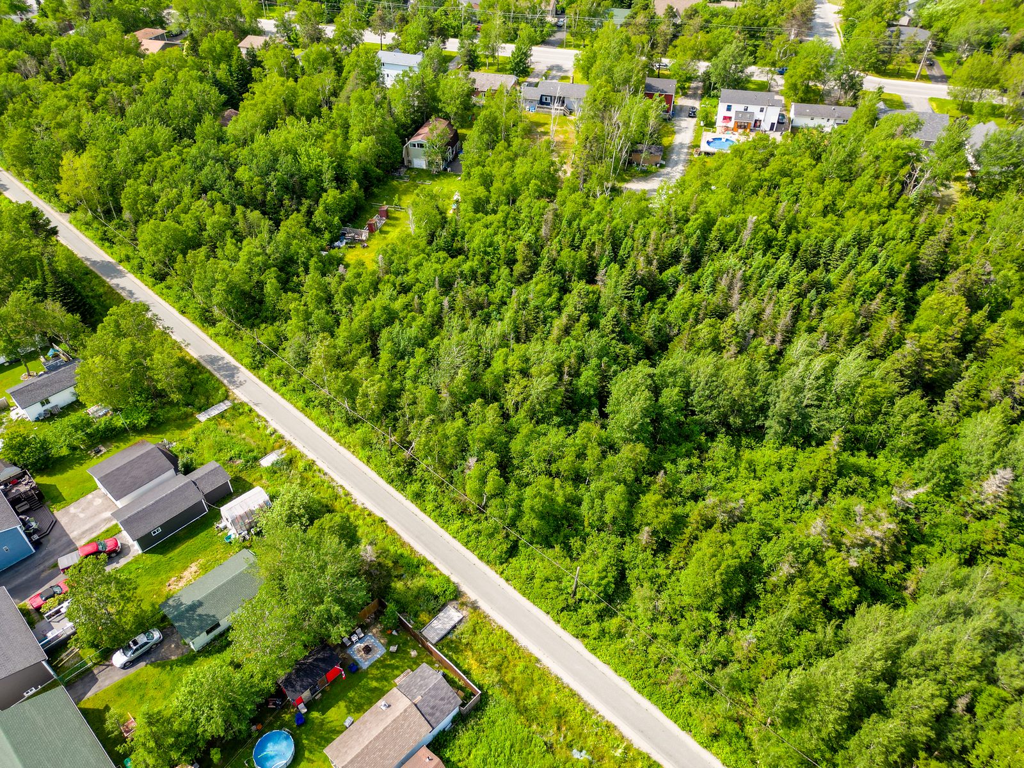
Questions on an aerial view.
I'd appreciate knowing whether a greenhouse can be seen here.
Yes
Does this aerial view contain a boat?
No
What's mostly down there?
trees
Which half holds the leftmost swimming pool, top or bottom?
bottom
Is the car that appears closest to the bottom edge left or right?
left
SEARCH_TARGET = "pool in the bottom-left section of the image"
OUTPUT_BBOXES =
[252,728,297,768]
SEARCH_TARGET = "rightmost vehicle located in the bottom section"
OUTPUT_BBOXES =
[112,627,167,667]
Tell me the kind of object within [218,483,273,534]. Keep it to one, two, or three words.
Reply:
greenhouse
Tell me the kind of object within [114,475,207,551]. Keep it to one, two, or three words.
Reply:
building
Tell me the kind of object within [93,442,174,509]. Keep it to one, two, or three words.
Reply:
building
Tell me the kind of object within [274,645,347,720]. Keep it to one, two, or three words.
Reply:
shed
